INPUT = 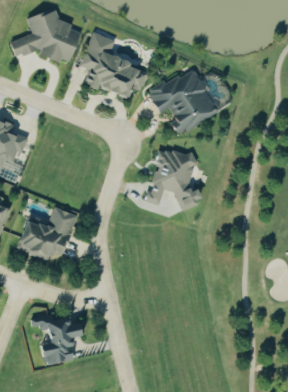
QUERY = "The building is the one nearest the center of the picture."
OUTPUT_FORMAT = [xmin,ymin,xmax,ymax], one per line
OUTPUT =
[146,148,205,210]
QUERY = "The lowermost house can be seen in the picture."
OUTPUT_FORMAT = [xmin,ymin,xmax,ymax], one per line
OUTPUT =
[31,320,84,366]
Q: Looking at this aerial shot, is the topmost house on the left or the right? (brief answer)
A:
left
